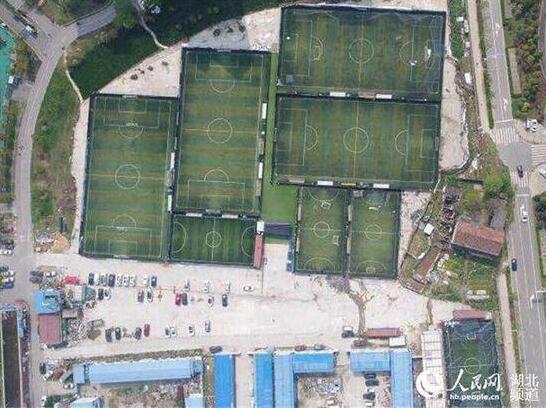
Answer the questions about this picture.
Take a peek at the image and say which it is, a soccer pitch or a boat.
soccer pitch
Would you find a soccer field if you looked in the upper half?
Yes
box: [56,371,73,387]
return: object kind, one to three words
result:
vehicle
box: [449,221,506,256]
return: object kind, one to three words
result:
house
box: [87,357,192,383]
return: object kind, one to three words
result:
building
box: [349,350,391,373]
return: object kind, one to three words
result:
building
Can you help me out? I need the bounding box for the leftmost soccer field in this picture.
[84,98,180,261]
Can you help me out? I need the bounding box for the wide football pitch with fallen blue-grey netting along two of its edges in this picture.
[277,11,442,101]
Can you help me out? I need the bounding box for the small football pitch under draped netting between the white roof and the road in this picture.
[439,316,503,410]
